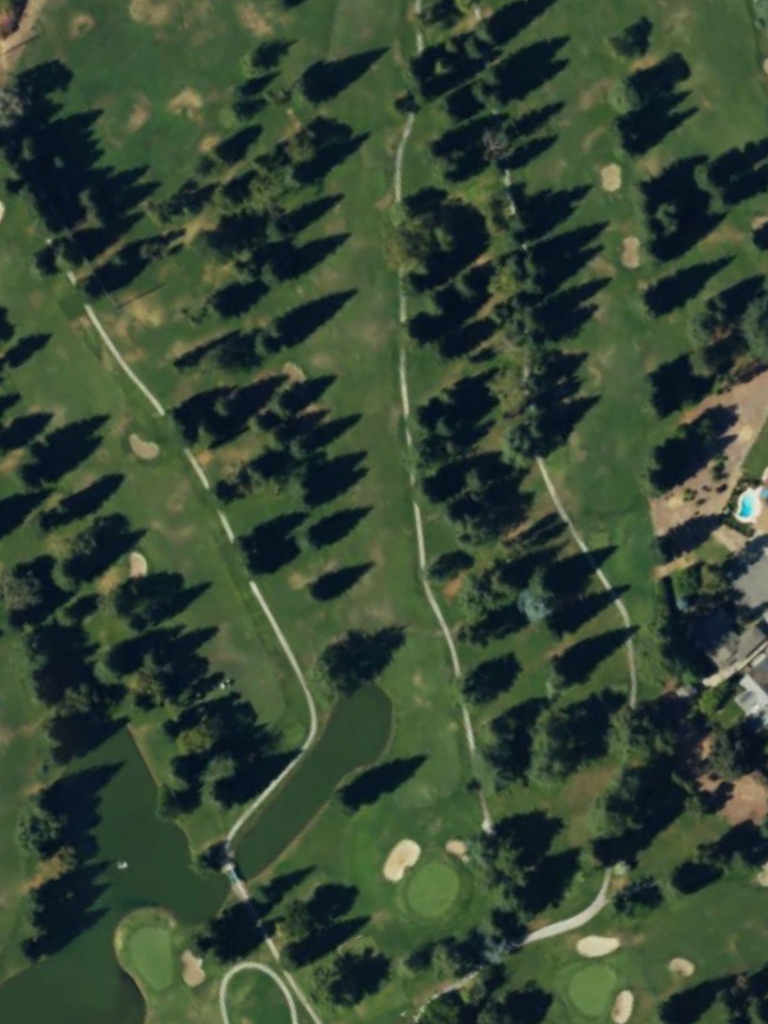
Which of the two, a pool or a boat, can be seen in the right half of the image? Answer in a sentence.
You can see a pool in the right half of the image.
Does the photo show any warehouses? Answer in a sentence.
No, there's no warehouse here.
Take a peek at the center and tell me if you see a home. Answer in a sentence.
No, the scene shows no home at the center.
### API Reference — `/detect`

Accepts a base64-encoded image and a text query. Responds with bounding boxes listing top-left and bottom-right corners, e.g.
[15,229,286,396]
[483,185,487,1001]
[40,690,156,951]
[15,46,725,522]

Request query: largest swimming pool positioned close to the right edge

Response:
[734,486,763,523]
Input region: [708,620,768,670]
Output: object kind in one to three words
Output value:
house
